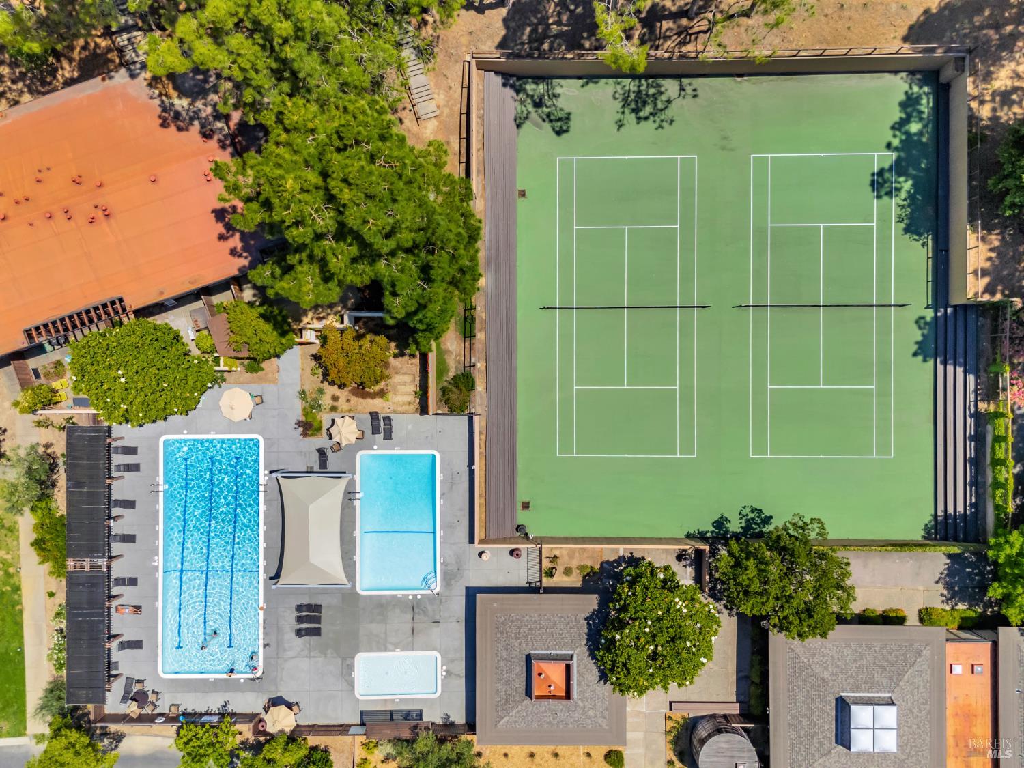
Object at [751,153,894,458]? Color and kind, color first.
green tennis court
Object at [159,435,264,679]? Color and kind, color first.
blue swimming pool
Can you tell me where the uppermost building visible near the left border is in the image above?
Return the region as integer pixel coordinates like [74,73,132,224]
[0,69,270,357]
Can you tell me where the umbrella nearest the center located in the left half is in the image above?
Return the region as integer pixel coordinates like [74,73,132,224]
[329,416,360,447]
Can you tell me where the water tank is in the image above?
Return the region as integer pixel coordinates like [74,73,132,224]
[689,714,762,768]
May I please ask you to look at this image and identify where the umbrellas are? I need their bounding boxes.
[329,416,360,447]
[266,700,298,734]
[221,388,254,420]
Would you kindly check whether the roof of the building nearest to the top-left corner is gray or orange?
orange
